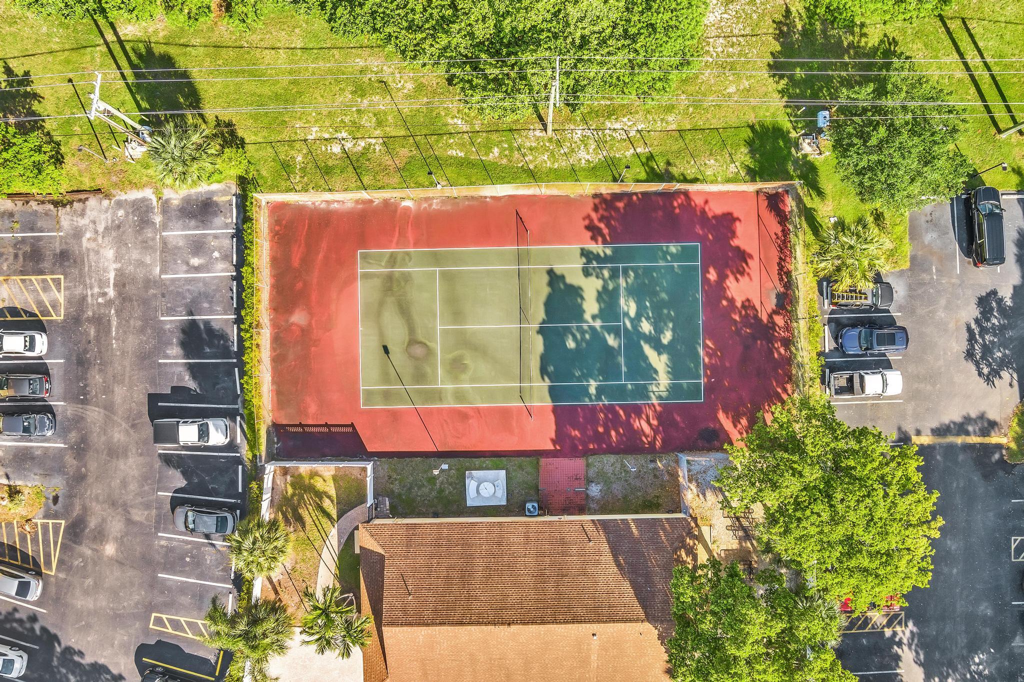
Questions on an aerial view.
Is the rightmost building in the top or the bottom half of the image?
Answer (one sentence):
Seen from above, the rightmost building lies in the top half of the view.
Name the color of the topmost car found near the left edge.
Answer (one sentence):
The color of the topmost car found near the left edge is white.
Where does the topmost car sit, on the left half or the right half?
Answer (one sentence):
It is on the right.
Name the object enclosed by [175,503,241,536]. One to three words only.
car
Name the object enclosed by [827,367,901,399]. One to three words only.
truck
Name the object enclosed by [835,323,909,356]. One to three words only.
car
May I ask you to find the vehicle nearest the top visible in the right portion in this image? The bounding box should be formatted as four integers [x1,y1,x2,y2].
[963,190,1008,268]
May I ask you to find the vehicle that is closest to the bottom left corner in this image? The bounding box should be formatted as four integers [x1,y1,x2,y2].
[0,643,33,678]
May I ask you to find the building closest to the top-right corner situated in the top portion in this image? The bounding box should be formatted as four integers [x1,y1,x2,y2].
[797,132,819,154]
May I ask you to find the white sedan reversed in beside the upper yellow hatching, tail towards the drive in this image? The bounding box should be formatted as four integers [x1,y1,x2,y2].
[0,330,51,357]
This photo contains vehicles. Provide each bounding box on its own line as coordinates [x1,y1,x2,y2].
[822,279,892,311]
[151,416,232,449]
[175,503,241,536]
[0,371,53,403]
[827,367,901,399]
[0,330,51,357]
[835,323,909,356]
[0,560,48,601]
[963,190,1008,268]
[0,643,33,678]
[142,668,206,682]
[0,409,56,441]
